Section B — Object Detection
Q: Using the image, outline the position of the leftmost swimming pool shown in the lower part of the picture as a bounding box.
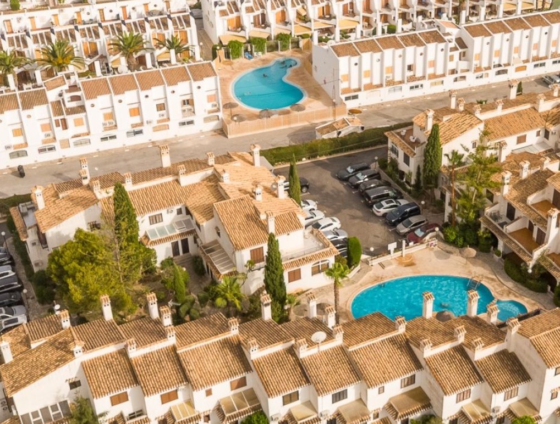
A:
[350,272,498,325]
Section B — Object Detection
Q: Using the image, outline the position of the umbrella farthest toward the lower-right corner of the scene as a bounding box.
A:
[433,305,456,323]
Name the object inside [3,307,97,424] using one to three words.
house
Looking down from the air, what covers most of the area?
buildings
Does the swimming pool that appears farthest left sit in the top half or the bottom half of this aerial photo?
top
